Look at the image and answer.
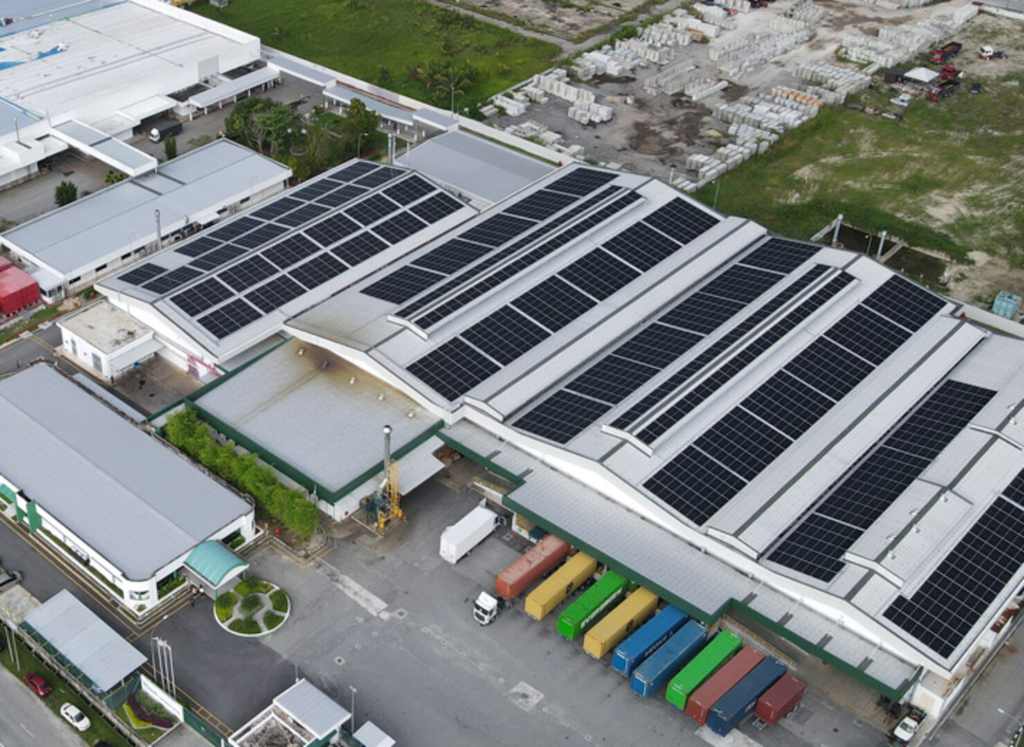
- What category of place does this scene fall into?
industrial area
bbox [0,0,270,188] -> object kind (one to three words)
building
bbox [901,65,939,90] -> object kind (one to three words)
tent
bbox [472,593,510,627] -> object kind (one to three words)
truck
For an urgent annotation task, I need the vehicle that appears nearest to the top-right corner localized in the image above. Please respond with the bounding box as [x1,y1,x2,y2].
[982,44,1007,62]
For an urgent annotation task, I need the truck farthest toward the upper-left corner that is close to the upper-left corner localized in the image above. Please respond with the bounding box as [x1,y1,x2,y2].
[147,115,185,141]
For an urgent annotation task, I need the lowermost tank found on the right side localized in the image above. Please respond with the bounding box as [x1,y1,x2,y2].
[993,286,1024,319]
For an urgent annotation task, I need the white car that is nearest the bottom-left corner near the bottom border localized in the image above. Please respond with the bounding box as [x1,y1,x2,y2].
[61,702,93,734]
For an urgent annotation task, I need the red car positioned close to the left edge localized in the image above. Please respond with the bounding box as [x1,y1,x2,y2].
[24,671,55,700]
